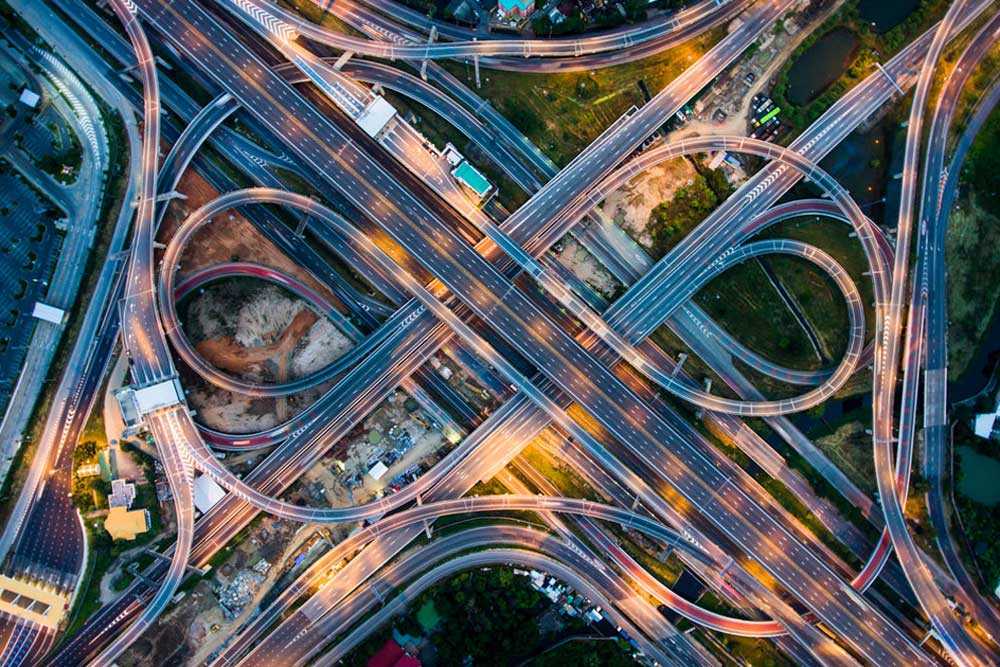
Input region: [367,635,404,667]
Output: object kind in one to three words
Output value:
building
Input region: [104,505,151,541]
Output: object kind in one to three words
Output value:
house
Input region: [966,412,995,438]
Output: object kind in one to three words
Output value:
building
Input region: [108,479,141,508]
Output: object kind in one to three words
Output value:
house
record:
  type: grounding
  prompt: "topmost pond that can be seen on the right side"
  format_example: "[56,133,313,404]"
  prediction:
[958,446,1000,502]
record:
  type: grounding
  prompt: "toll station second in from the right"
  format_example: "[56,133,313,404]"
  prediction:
[132,350,181,426]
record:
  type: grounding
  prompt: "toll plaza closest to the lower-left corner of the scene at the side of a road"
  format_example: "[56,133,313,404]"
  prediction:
[0,571,73,652]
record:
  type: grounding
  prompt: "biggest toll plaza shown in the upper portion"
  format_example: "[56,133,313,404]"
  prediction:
[332,79,420,148]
